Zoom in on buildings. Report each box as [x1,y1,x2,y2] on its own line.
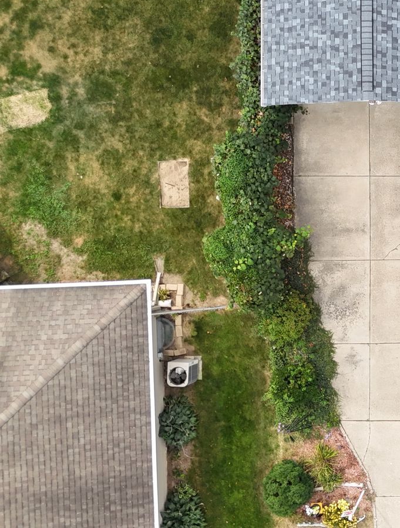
[0,279,169,528]
[261,0,400,108]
